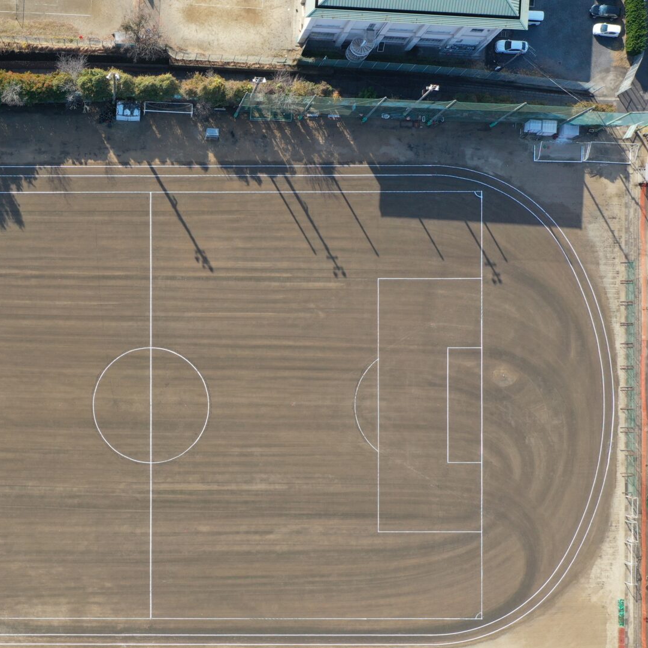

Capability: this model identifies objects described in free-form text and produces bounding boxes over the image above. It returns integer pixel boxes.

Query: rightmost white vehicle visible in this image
[593,21,622,37]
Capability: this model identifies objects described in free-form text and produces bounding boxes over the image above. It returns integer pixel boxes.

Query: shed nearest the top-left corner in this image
[115,97,140,121]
